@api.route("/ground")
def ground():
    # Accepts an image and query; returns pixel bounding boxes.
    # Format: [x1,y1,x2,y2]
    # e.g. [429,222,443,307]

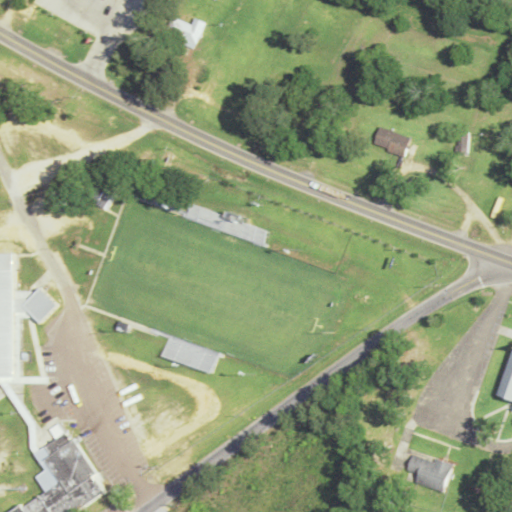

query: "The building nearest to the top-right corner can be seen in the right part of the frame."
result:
[452,132,471,156]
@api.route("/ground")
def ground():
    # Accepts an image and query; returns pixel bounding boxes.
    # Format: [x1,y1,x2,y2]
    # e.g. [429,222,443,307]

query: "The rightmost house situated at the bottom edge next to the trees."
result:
[405,455,456,492]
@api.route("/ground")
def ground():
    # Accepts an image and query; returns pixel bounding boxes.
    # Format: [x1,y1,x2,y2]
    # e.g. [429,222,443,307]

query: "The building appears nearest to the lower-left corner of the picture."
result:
[12,436,106,512]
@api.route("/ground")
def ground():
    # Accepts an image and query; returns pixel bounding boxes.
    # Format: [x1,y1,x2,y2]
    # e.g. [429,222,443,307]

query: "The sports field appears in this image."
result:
[88,204,346,376]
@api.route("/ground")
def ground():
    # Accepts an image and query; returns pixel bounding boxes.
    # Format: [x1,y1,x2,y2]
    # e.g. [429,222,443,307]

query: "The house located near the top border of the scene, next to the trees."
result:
[169,17,209,51]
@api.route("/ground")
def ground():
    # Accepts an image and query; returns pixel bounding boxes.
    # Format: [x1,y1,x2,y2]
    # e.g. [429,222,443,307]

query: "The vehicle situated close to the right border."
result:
[492,196,505,220]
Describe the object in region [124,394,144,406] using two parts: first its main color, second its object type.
white vehicle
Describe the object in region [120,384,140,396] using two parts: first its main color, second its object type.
white vehicle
